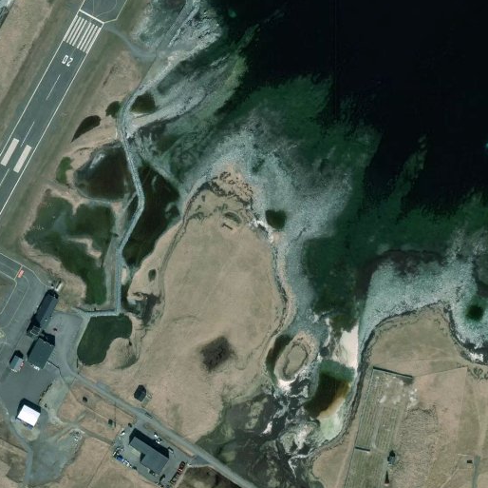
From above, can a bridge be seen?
No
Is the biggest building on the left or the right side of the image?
left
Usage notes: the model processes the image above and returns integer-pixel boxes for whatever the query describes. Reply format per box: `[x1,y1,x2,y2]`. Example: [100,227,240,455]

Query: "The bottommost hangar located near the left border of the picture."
[17,404,40,426]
